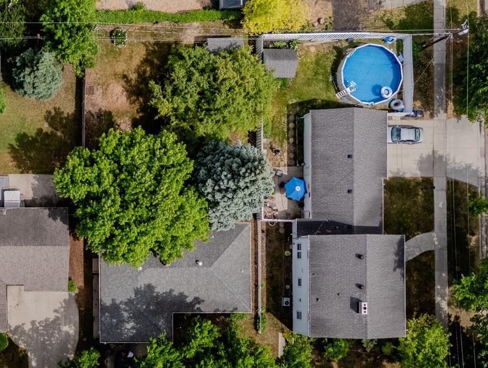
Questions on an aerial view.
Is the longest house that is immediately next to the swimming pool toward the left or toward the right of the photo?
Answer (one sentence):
The longest house that is immediately next to the swimming pool sits on the right side.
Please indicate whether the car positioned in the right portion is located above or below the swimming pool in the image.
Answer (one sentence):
As seen from overhead, the car positioned in the right portion falls below the swimming pool in the picture.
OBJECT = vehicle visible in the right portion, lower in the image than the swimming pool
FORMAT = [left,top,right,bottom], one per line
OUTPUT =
[388,122,428,145]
